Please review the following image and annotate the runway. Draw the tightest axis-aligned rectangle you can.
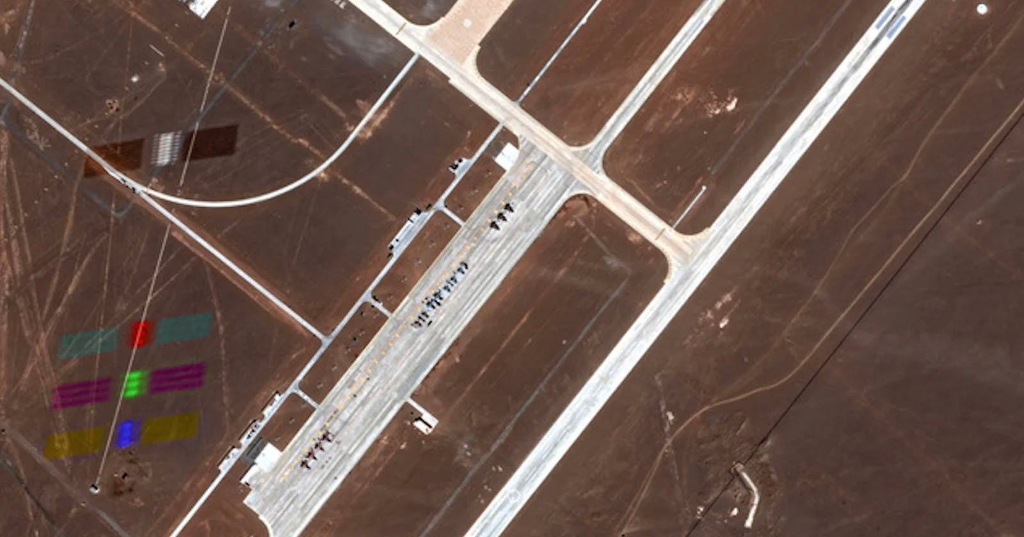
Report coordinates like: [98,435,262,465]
[464,0,925,537]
